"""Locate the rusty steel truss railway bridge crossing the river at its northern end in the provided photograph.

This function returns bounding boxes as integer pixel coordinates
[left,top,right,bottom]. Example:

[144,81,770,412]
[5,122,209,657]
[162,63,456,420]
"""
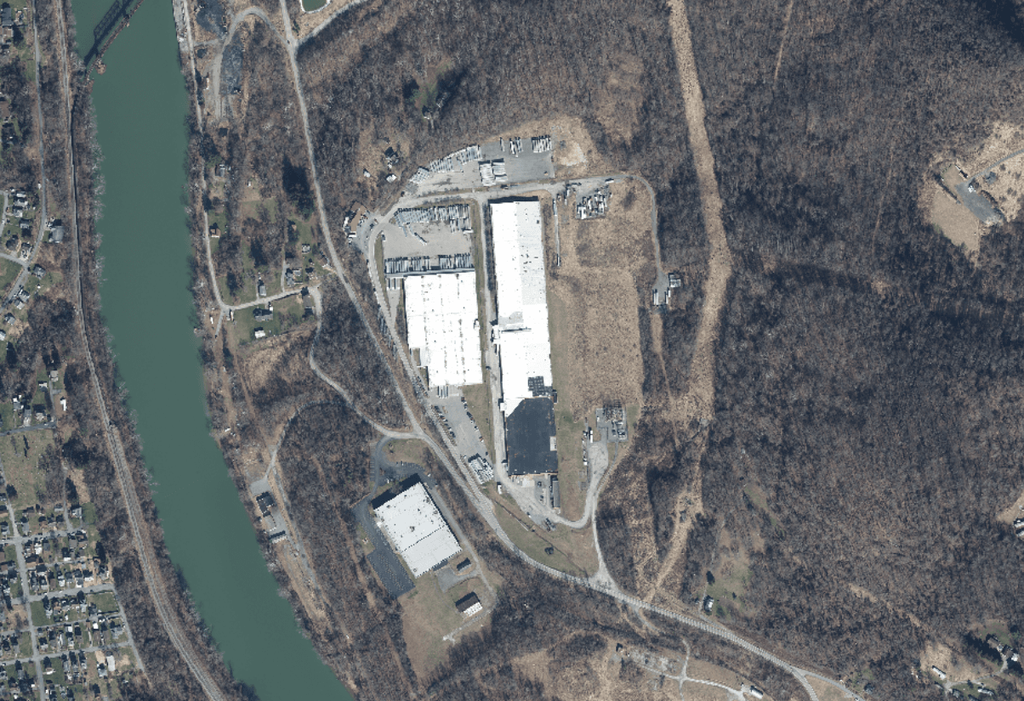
[83,0,142,85]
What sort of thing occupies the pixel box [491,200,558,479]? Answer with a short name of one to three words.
building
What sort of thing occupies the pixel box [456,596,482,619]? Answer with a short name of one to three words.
barn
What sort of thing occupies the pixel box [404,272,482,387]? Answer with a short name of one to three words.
building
